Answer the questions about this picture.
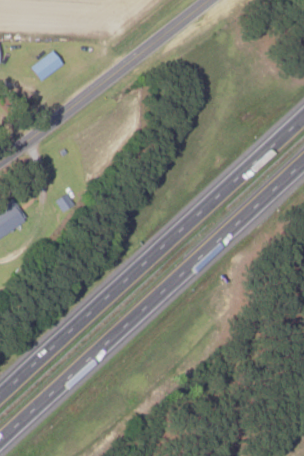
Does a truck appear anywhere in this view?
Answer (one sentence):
Yes, this view includes a truck.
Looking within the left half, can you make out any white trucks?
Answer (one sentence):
Yes, I can see a white truck within the left half.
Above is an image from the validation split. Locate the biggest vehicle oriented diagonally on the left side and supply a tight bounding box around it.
[66,348,107,387]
